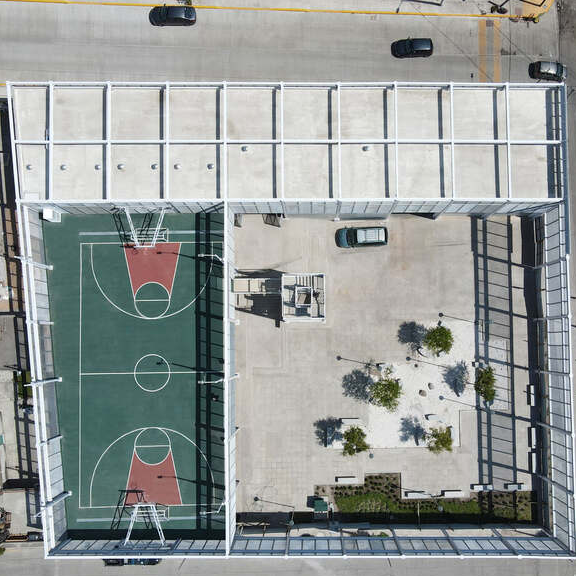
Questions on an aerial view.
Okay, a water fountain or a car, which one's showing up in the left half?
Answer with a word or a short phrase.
car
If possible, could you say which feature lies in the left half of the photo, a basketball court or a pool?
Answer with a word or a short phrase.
basketball court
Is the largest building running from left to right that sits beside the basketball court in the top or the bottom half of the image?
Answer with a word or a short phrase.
top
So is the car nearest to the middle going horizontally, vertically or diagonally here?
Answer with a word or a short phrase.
horizontally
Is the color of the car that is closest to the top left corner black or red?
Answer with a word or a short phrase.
black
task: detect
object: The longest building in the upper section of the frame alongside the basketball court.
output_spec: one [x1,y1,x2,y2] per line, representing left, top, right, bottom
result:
[8,81,571,254]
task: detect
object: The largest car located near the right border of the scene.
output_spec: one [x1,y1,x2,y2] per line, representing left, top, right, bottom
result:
[530,60,569,83]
